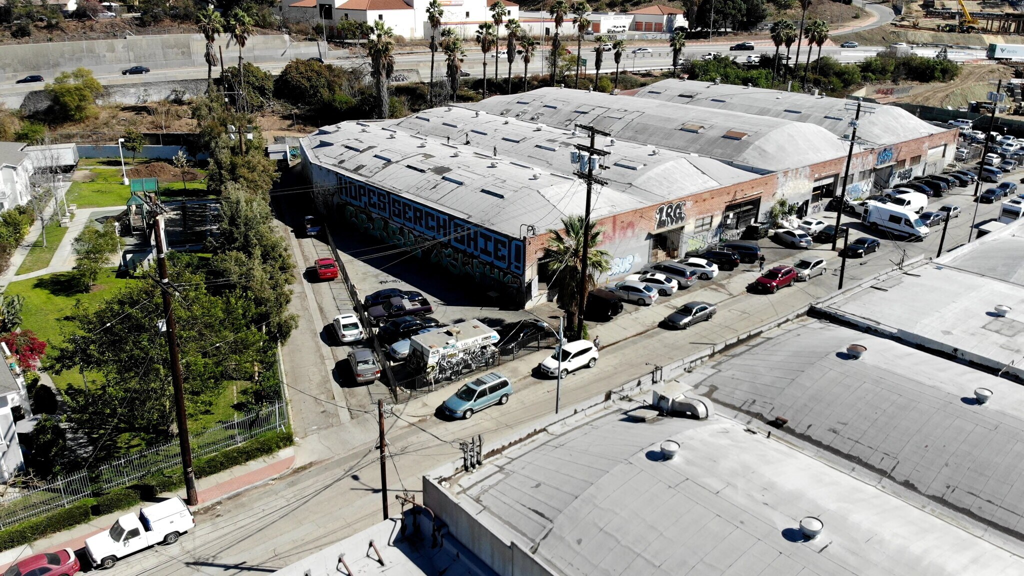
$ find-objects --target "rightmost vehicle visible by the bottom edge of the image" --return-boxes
[79,489,192,568]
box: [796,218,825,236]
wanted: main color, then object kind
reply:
white car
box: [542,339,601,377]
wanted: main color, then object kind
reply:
white car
